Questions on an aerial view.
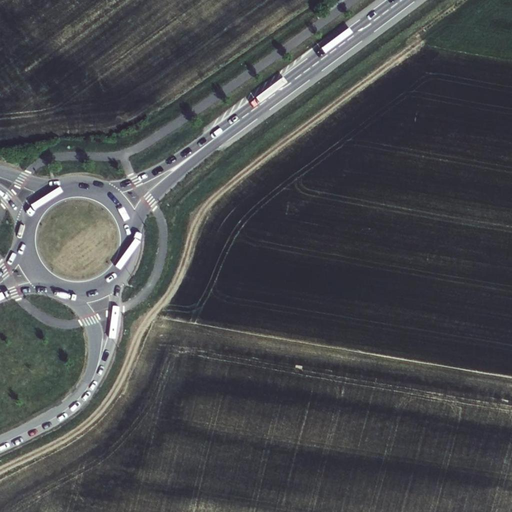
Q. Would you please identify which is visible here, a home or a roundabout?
roundabout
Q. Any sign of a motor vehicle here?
Yes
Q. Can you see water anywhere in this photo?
No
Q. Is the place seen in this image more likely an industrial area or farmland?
farmland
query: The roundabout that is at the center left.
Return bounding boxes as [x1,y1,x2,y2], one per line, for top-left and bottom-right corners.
[14,176,142,304]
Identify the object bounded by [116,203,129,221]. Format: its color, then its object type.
white vehicle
